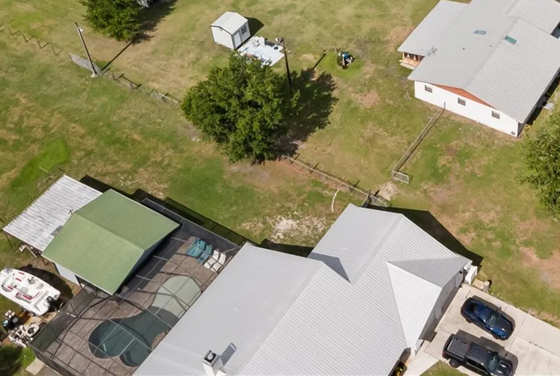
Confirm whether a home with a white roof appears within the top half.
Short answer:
Yes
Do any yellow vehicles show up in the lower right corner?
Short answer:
No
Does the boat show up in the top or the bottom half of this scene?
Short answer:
bottom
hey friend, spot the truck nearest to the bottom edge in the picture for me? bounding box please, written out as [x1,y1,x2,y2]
[446,329,517,376]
